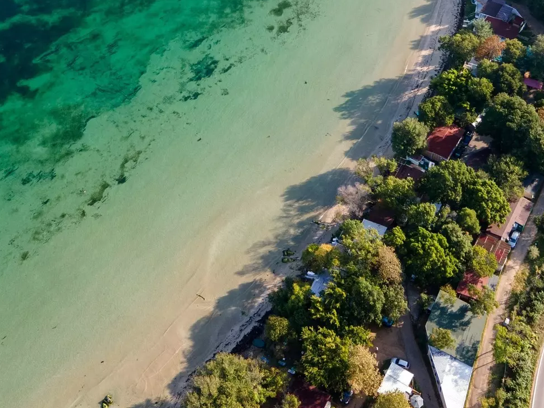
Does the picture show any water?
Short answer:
Yes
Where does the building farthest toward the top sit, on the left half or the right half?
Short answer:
right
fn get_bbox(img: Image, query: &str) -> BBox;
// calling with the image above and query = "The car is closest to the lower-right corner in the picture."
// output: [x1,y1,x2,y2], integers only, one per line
[389,354,412,371]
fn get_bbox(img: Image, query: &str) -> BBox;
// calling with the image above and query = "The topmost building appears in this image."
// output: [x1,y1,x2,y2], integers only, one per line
[476,0,526,40]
